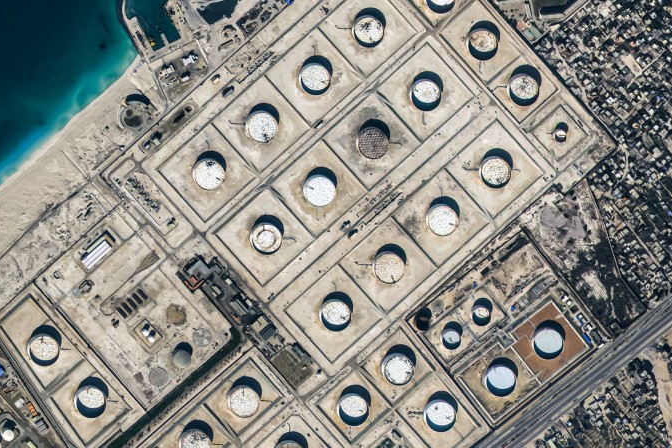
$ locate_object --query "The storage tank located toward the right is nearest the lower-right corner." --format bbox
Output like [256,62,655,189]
[518,327,565,359]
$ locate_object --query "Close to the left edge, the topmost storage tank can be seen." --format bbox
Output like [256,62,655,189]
[26,318,60,365]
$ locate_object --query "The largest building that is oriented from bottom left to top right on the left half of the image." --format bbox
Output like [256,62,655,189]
[81,240,111,267]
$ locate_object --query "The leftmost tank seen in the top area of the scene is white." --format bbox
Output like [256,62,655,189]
[192,144,226,191]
